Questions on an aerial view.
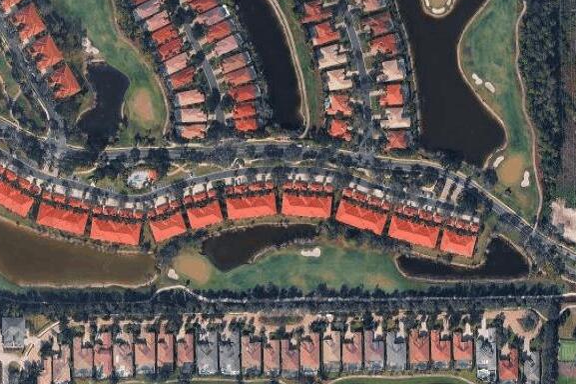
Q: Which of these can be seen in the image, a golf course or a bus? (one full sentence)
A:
Looking from above, you can make out a golf course.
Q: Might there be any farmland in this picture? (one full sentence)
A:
No, farmland can't be seen anywhere here.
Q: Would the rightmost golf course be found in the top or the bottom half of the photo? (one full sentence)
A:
The rightmost golf course sits in the top half of the picture.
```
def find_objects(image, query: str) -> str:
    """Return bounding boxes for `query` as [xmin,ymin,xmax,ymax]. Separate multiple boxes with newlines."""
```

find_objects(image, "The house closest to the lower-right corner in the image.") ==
[524,351,542,384]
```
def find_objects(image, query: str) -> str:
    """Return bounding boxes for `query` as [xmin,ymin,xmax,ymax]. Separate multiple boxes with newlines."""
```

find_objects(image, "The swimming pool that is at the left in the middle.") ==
[127,169,150,187]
